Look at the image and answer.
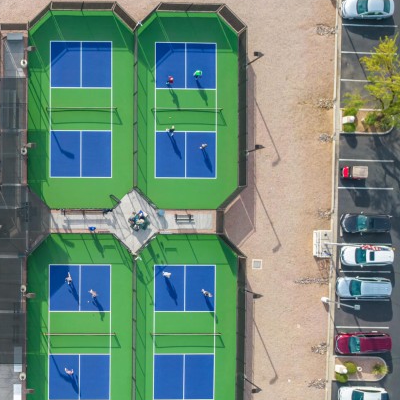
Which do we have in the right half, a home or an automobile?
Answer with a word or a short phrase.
automobile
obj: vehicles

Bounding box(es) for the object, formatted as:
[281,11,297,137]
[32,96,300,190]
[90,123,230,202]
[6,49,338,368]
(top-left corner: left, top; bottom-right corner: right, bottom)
[343,0,398,20]
[342,212,398,236]
[342,244,398,268]
[341,166,375,179]
[339,275,398,300]
[340,385,392,400]
[337,331,398,356]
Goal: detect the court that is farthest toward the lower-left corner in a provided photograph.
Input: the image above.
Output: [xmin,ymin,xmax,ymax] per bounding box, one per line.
[28,234,134,400]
